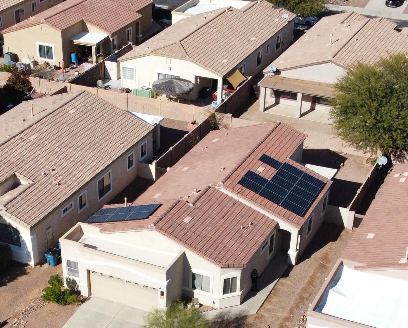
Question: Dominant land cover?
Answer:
buildings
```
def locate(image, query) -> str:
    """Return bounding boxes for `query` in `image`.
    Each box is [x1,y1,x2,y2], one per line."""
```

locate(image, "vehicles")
[385,0,406,8]
[291,9,320,26]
